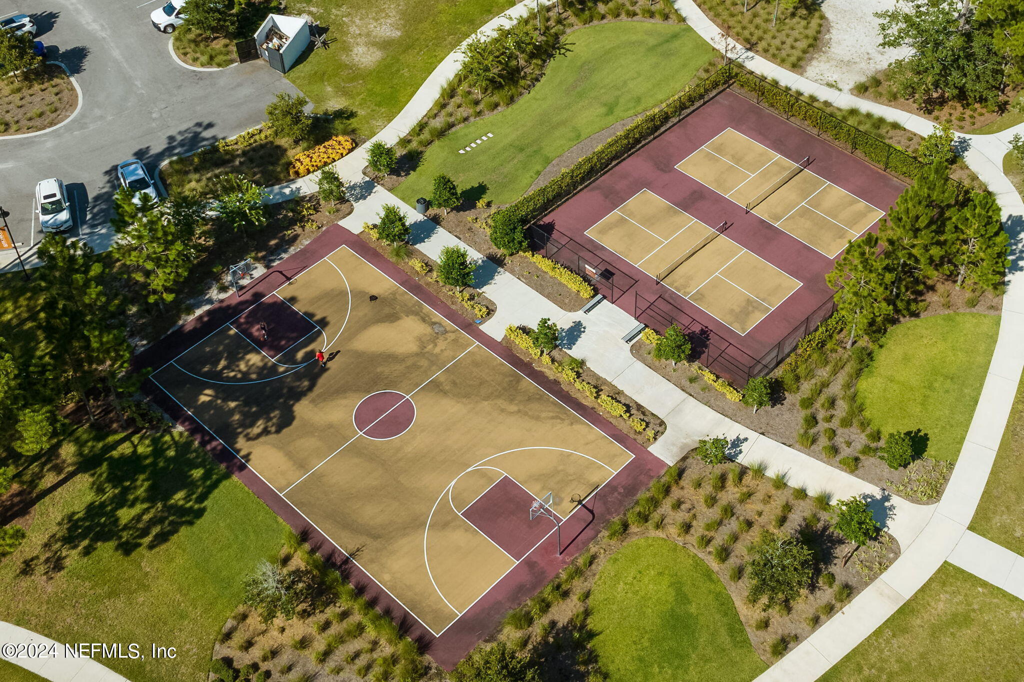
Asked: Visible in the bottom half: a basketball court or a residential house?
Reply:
basketball court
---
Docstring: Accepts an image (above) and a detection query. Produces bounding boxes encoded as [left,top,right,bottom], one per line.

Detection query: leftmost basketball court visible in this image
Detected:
[128,223,671,671]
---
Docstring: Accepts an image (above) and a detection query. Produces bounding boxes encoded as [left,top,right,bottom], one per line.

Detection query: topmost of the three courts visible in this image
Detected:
[675,127,885,258]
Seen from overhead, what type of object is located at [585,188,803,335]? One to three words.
sports court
